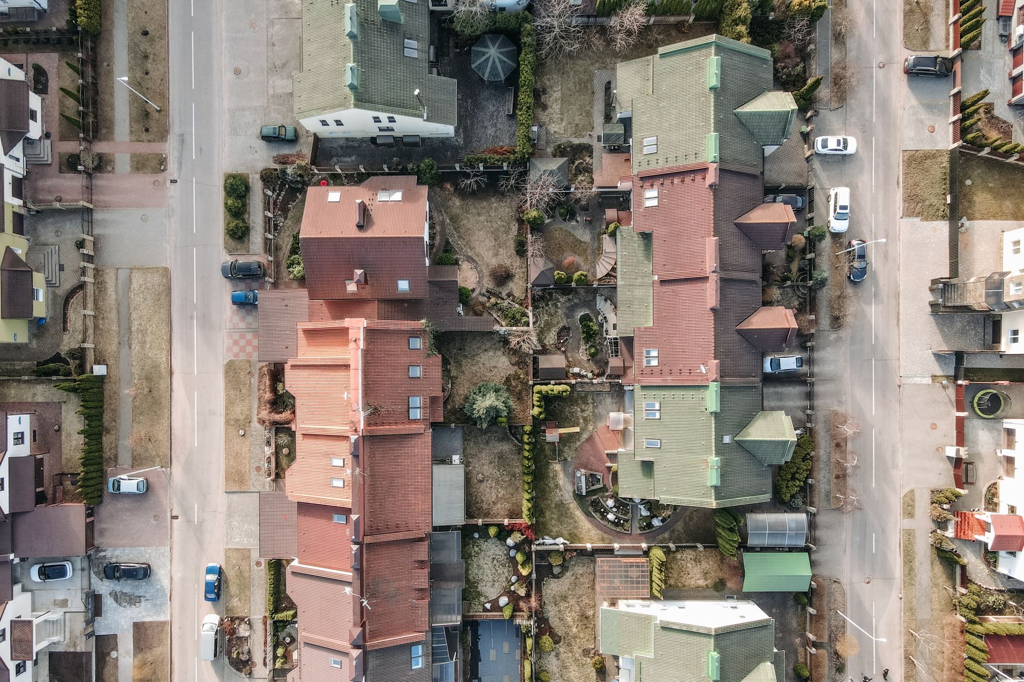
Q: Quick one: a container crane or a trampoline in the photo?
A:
trampoline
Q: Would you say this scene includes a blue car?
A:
Yes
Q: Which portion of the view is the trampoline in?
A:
right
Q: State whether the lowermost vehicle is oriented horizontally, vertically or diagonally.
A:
vertically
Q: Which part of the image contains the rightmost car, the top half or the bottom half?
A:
top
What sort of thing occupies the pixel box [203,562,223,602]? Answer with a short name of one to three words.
car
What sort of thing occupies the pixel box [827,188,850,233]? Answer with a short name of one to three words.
car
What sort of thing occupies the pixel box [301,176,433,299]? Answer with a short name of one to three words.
house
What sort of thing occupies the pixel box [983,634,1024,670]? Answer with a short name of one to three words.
shed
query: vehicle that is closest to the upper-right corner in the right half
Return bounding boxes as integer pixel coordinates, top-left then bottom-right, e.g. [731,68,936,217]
[903,54,951,77]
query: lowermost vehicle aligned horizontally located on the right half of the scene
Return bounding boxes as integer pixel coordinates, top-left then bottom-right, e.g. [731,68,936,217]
[761,354,803,373]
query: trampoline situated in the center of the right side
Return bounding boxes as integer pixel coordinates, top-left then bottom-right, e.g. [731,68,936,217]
[974,388,1018,421]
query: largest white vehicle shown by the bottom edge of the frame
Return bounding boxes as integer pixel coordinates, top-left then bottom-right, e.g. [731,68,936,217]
[199,612,223,664]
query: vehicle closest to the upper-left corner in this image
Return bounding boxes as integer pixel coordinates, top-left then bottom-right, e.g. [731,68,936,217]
[259,123,300,143]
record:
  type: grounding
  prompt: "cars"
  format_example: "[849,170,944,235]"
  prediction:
[203,562,223,602]
[230,288,258,306]
[106,560,153,582]
[827,188,850,233]
[812,134,856,155]
[109,476,150,495]
[259,123,300,143]
[222,259,267,280]
[846,238,868,282]
[903,54,951,77]
[761,354,803,373]
[762,192,806,212]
